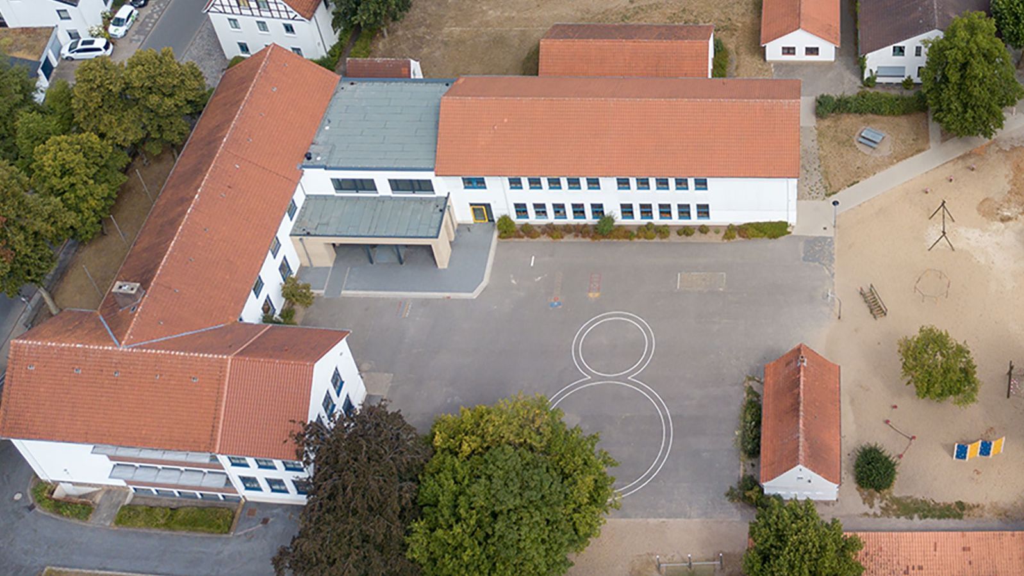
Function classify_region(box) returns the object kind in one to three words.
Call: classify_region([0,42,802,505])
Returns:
building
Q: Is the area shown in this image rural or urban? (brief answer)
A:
urban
